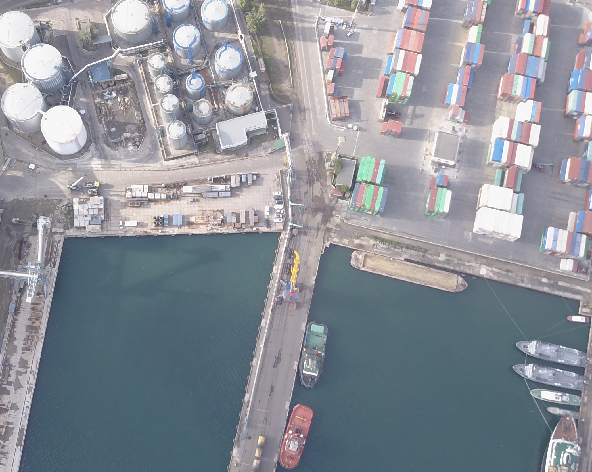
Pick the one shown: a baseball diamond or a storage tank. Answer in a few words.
storage tank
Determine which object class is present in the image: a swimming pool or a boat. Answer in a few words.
boat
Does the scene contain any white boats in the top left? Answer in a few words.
No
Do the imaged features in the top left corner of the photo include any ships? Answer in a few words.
No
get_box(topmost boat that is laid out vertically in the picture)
[298,320,329,390]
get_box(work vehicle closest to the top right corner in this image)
[530,151,559,173]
